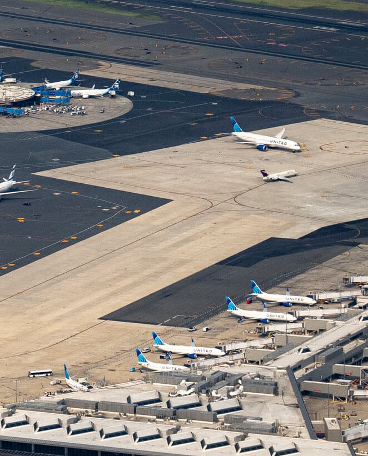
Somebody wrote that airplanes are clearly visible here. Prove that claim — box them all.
[74,78,119,97]
[155,333,226,357]
[0,168,38,200]
[131,348,197,375]
[249,281,318,307]
[258,170,300,181]
[220,120,301,153]
[0,65,10,85]
[228,297,296,323]
[42,68,87,89]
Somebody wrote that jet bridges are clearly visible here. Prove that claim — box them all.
[31,82,52,90]
[341,427,368,443]
[193,353,248,367]
[0,105,27,118]
[33,93,74,106]
[342,274,368,287]
[341,418,368,443]
[292,306,348,319]
[259,320,305,337]
[347,387,368,403]
[311,288,364,305]
[219,339,278,354]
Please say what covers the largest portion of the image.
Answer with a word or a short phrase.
paved ground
